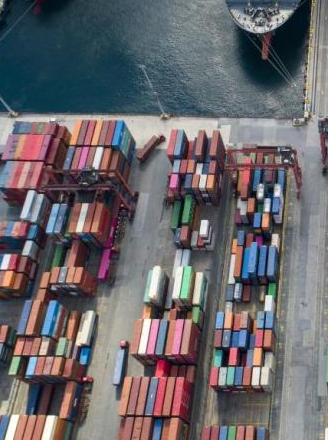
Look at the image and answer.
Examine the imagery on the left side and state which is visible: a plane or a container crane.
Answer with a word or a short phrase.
container crane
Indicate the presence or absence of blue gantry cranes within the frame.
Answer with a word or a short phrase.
No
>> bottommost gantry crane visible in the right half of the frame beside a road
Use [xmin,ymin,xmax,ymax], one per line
[219,146,301,201]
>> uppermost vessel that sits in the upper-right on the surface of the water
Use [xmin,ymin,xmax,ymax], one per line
[221,0,302,61]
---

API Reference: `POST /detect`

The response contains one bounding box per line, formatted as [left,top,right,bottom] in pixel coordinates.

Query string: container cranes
[318,117,328,171]
[39,167,137,221]
[219,146,301,201]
